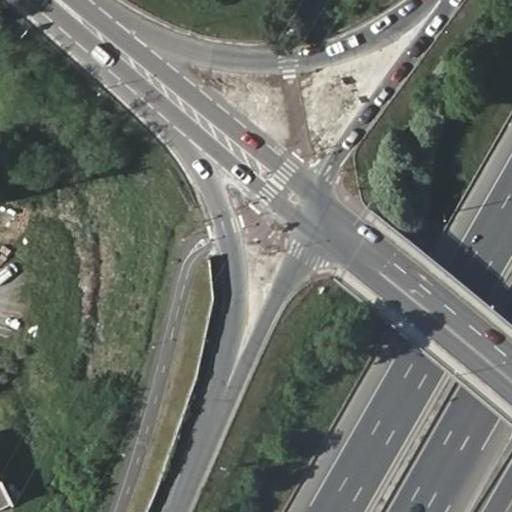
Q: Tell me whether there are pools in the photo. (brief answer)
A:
No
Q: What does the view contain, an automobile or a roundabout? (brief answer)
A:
automobile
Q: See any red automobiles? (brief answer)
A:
Yes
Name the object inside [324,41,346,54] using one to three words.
vehicle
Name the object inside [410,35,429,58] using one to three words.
car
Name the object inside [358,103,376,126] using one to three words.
car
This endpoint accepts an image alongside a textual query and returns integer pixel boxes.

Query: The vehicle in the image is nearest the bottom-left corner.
[2,314,24,332]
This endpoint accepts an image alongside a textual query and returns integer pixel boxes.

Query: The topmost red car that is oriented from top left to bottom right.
[240,132,260,150]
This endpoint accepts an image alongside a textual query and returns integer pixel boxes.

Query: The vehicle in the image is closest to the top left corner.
[92,44,115,66]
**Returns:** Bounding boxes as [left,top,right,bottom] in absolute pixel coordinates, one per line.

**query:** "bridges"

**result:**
[334,214,512,427]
